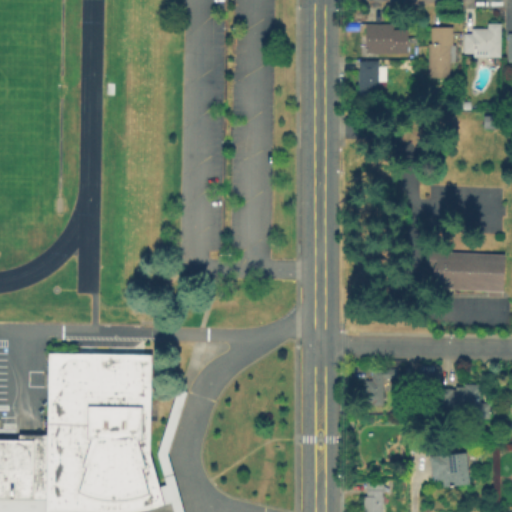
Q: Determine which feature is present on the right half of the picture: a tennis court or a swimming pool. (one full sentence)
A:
You can see a swimming pool on the right half of the picture.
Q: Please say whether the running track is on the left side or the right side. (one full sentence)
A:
The running track is on the left side of the image.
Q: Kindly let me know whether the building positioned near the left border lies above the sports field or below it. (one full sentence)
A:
You can see the building positioned near the left border below the sports field in the frame.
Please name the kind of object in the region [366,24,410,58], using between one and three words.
house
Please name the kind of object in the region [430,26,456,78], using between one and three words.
house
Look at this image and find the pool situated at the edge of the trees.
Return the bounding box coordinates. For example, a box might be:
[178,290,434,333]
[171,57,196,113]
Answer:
[473,62,499,96]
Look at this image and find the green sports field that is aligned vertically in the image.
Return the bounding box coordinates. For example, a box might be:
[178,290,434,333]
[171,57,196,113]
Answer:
[0,0,82,272]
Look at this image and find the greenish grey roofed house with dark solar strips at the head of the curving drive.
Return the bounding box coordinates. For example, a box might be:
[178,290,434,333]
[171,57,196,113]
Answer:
[430,454,470,488]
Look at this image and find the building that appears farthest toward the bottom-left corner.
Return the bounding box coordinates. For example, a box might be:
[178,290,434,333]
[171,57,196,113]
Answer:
[0,354,165,512]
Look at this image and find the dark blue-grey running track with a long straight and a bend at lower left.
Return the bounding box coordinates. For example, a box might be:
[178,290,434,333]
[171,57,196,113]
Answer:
[0,0,105,294]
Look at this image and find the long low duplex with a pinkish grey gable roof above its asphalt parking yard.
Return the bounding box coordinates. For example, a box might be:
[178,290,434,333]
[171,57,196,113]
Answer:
[432,252,506,296]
